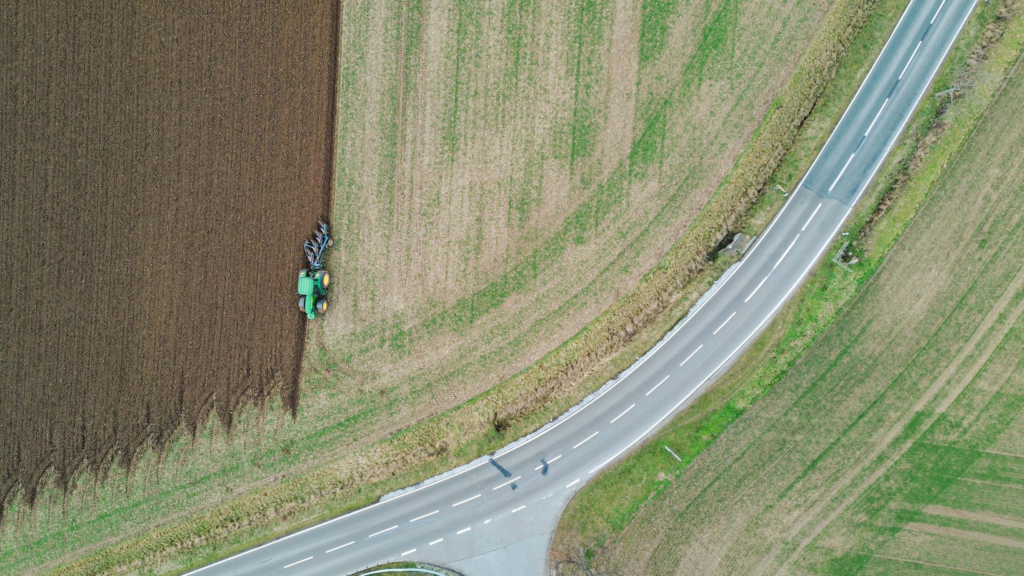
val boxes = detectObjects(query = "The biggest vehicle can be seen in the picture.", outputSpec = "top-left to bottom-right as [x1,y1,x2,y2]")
[298,264,331,319]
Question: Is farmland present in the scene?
Yes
